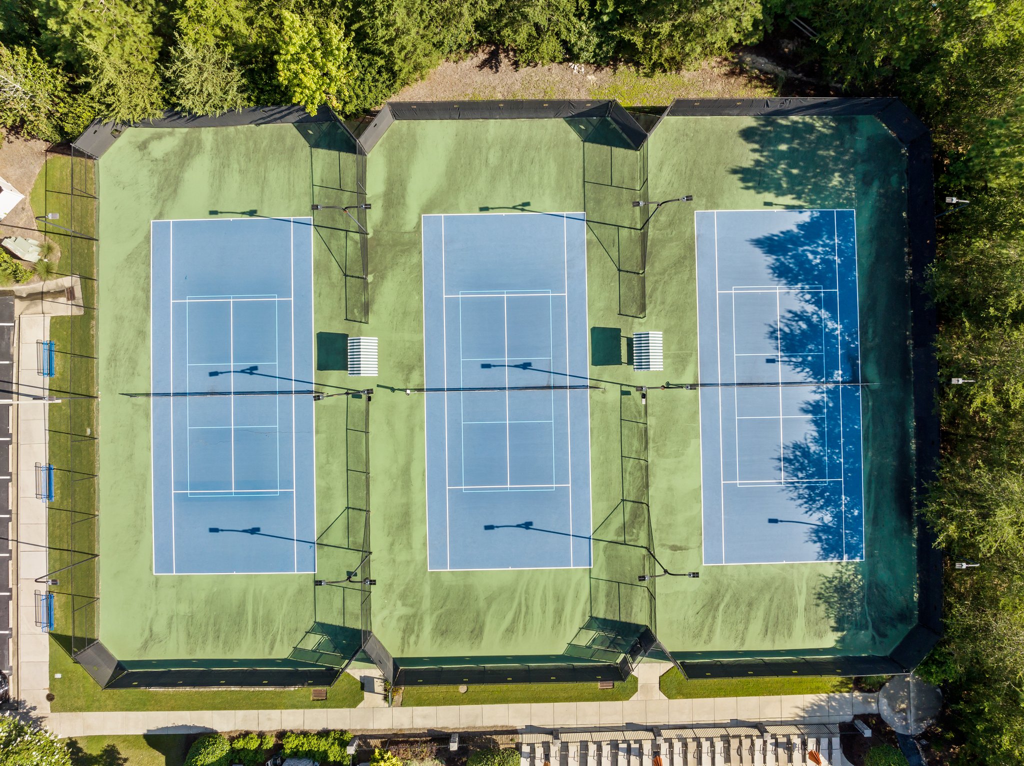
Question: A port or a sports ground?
sports ground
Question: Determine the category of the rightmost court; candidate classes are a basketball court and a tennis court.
tennis court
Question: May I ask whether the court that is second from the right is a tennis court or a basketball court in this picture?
tennis court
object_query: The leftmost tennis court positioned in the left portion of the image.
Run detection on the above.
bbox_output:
[94,120,370,673]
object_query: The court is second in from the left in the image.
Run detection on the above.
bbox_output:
[344,116,647,670]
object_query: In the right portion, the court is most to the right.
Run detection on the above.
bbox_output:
[626,111,918,665]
